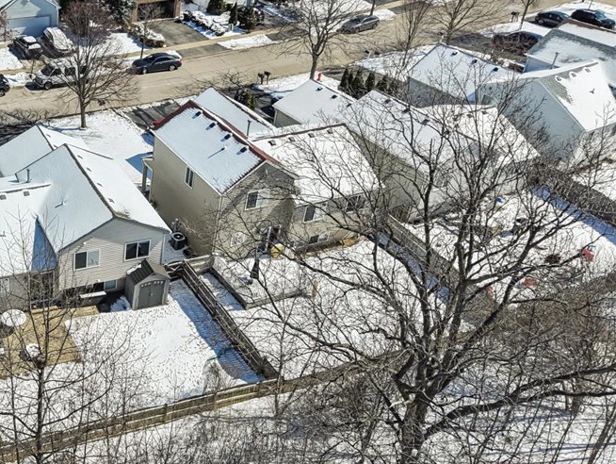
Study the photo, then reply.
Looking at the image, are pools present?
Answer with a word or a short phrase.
No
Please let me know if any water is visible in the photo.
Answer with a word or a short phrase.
No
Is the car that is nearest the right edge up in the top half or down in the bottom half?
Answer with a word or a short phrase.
top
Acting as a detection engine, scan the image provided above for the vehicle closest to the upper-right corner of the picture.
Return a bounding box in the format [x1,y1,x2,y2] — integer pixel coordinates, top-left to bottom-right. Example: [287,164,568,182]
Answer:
[567,6,616,28]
